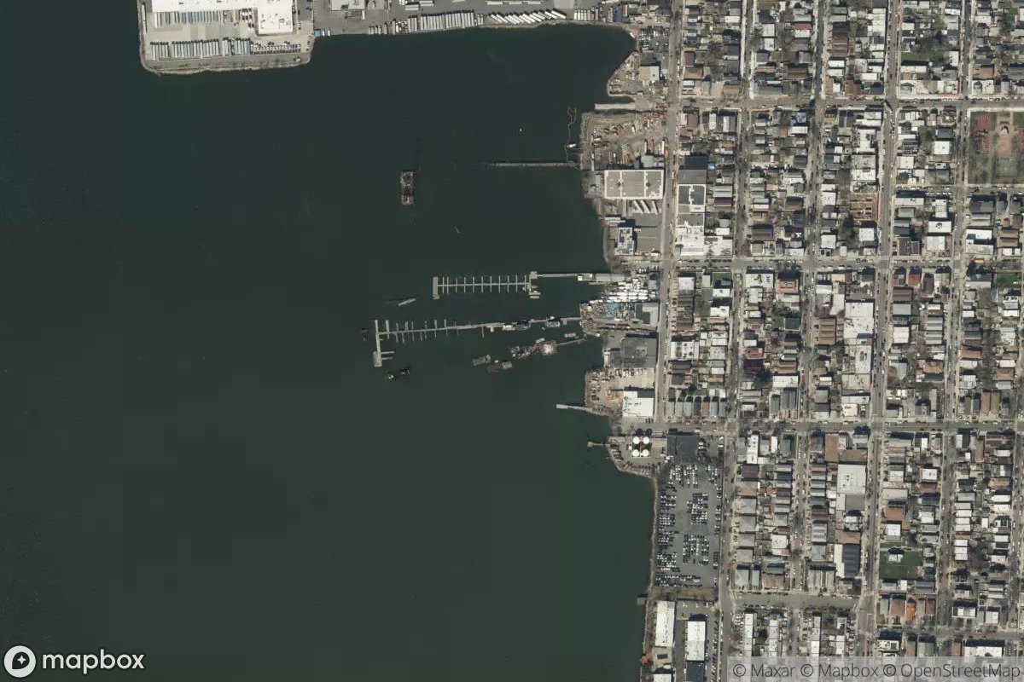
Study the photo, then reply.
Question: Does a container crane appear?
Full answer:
No, the picture doesn't show any container crane.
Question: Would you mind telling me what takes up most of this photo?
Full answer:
The scene is dominated by water.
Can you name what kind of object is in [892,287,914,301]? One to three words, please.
house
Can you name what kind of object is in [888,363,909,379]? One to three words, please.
building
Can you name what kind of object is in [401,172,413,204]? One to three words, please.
ship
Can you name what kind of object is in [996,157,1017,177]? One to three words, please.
sports court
